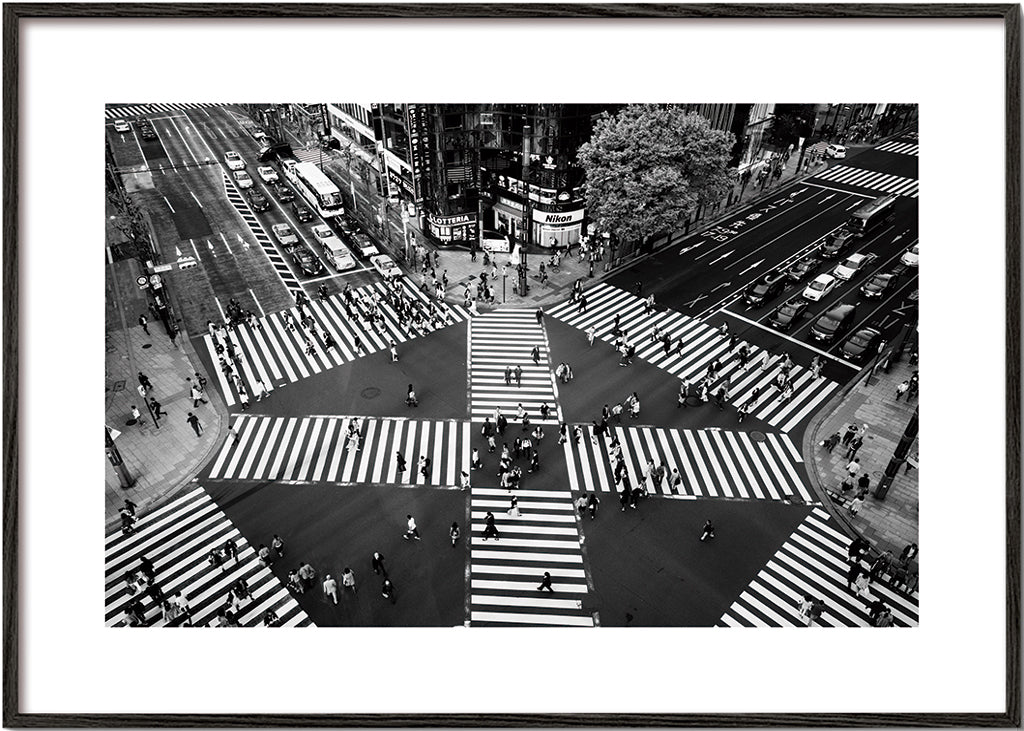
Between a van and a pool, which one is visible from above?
van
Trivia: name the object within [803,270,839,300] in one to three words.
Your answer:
car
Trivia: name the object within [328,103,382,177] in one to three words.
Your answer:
building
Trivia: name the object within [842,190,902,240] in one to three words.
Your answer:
bus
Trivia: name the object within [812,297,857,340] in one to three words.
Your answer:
van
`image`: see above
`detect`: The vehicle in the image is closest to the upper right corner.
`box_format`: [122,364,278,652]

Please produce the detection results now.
[898,127,919,141]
